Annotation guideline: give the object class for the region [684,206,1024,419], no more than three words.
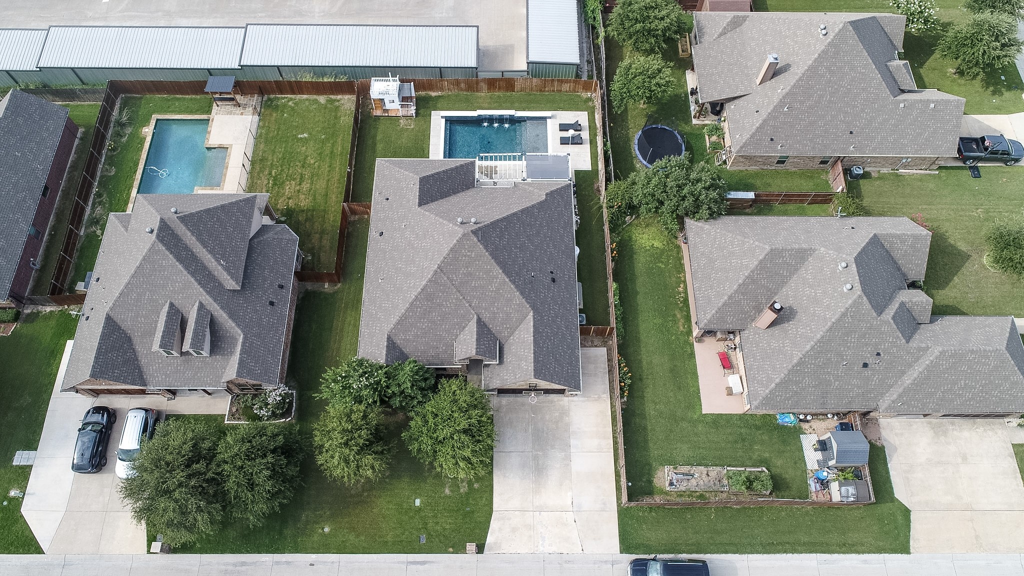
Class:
house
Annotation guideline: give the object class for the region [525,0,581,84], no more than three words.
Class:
shed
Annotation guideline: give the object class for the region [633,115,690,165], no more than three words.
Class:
trampoline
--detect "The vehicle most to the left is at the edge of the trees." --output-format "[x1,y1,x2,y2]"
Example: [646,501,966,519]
[70,405,118,473]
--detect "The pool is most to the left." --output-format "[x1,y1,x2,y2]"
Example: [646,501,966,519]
[129,114,233,211]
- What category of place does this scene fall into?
residential area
